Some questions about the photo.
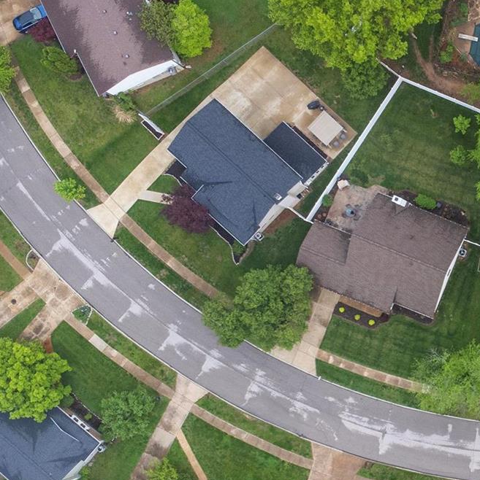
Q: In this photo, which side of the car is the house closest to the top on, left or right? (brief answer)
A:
on its right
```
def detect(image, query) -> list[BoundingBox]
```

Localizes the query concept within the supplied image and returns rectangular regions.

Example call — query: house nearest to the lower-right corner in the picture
[292,189,470,319]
